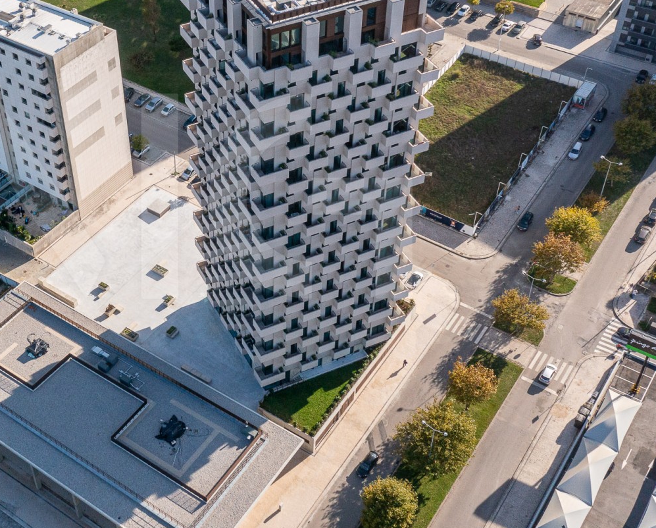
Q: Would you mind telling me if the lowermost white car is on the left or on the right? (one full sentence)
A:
The lowermost white car is on the right side of the image.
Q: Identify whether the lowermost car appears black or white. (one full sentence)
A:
The lowermost car is black.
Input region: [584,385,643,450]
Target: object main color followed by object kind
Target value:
white tent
